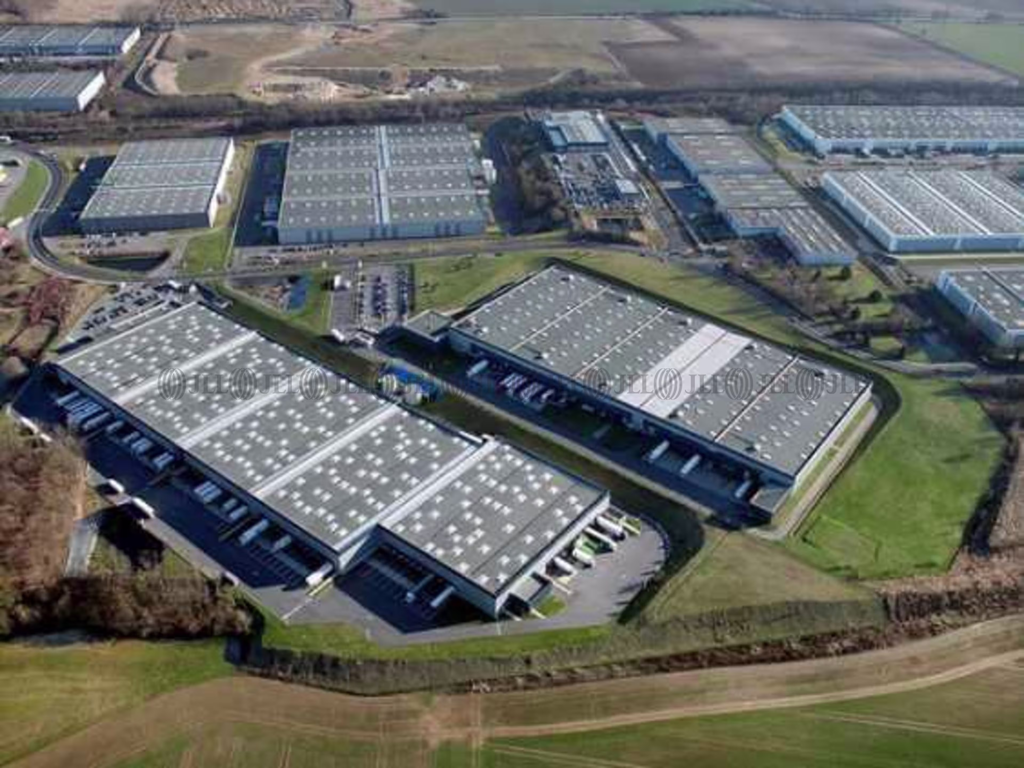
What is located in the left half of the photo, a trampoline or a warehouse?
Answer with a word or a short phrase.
warehouse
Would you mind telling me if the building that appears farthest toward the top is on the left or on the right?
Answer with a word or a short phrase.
left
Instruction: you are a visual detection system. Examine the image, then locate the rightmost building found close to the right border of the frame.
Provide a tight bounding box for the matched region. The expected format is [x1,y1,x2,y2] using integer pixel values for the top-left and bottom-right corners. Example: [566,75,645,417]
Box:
[942,269,1024,352]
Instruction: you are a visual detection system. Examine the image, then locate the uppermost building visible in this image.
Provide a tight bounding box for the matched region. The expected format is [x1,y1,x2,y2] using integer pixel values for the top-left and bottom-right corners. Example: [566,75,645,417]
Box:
[0,25,141,58]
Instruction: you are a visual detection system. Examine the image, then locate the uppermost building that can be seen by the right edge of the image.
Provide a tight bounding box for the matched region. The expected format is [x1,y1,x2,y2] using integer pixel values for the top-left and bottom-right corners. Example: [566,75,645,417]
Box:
[785,106,1024,153]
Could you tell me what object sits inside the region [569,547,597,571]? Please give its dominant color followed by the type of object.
white truck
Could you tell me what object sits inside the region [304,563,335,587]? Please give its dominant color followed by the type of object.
white truck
